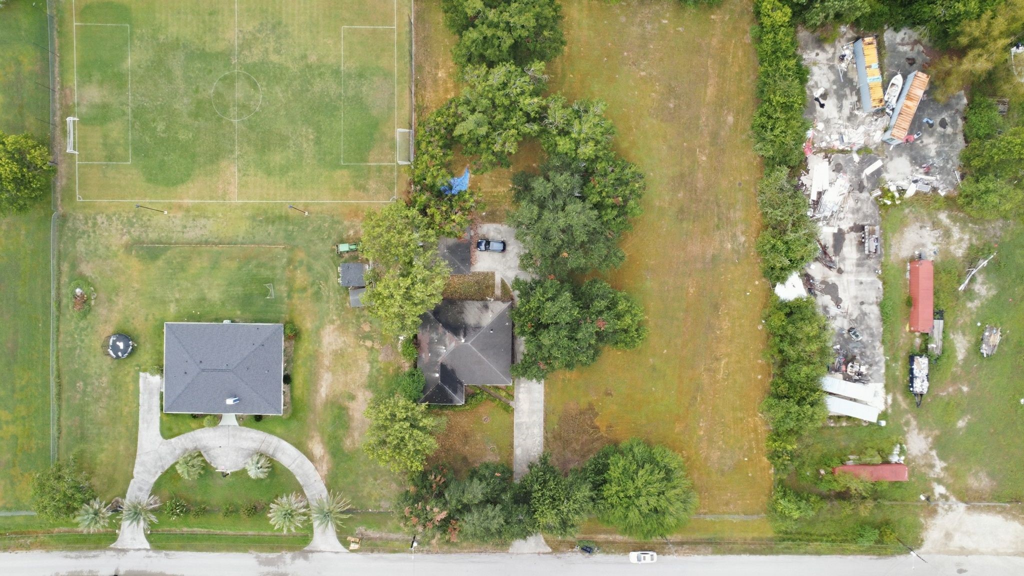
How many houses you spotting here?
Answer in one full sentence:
Altogether the scene contains 2 houses.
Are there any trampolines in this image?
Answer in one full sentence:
Yes, this view includes a trampoline.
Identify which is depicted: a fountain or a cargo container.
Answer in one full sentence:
The image shows a cargo container.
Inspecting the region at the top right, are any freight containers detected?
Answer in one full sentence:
Yes, I can see a freight container at the top right.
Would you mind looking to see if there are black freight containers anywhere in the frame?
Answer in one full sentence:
No, there's no black freight container here.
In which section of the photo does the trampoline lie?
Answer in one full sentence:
Look in the left portion of the view to spot the trampoline.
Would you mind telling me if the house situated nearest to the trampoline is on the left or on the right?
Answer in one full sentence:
It is on the left.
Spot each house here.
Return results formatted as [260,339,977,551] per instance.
[417,301,512,404]
[163,322,285,415]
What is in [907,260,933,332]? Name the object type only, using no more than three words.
shed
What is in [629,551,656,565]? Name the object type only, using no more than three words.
car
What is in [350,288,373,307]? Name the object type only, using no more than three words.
shed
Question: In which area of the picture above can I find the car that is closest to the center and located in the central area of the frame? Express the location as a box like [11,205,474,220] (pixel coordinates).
[478,239,506,252]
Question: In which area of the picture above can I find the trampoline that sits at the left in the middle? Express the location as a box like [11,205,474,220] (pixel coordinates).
[101,333,133,360]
